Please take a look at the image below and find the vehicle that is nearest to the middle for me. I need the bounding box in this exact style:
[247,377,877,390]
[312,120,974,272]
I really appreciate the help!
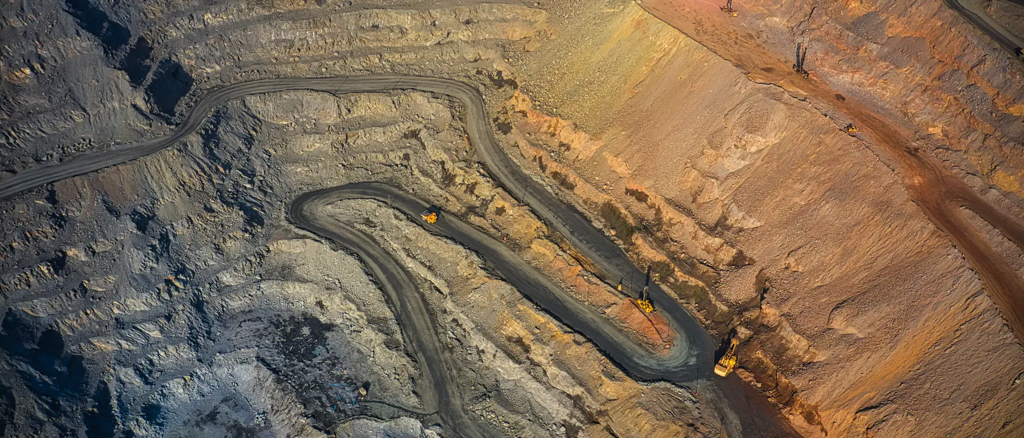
[420,209,439,224]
